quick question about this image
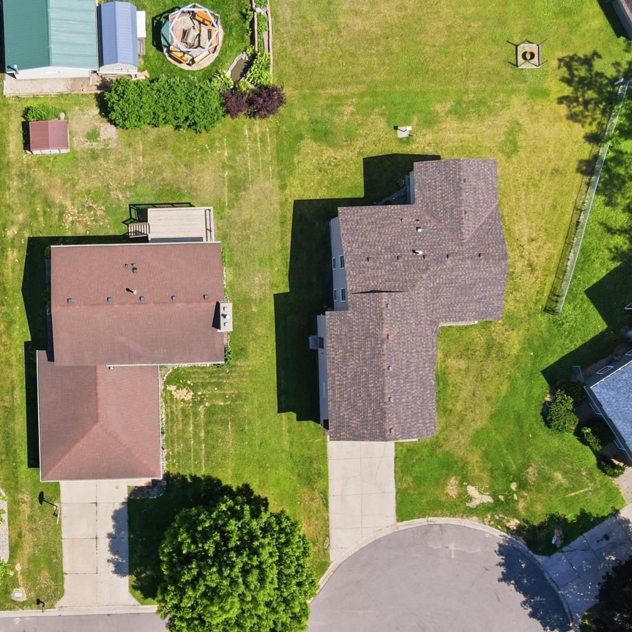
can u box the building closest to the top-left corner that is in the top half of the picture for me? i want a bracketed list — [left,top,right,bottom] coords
[2,0,100,78]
